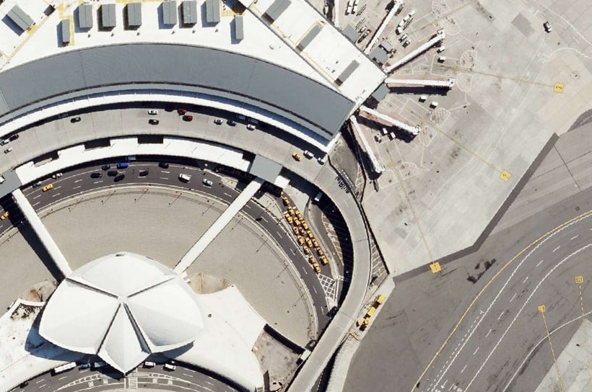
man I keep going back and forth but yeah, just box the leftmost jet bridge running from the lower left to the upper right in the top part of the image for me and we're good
[363,0,403,55]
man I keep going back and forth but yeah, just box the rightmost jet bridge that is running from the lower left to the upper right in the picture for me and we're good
[383,29,448,73]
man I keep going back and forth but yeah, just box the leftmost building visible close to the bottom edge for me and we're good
[0,252,265,392]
